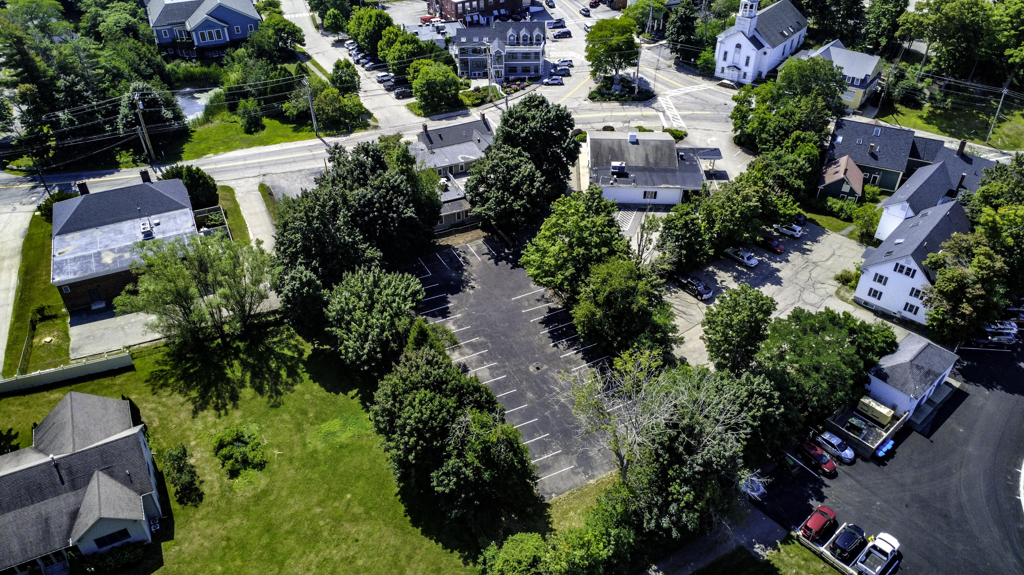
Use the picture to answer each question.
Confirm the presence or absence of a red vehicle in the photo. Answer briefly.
Yes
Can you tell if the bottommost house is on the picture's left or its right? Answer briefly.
left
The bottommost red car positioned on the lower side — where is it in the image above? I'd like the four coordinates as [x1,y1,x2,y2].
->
[801,507,836,543]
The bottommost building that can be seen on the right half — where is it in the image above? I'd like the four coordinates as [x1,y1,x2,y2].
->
[865,332,962,418]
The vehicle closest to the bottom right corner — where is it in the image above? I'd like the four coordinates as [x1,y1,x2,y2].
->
[854,533,899,575]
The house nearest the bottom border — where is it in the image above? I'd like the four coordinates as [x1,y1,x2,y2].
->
[0,395,161,575]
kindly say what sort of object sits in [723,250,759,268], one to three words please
car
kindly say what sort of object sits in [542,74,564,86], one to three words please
vehicle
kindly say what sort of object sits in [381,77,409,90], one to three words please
vehicle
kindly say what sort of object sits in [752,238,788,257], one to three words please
car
